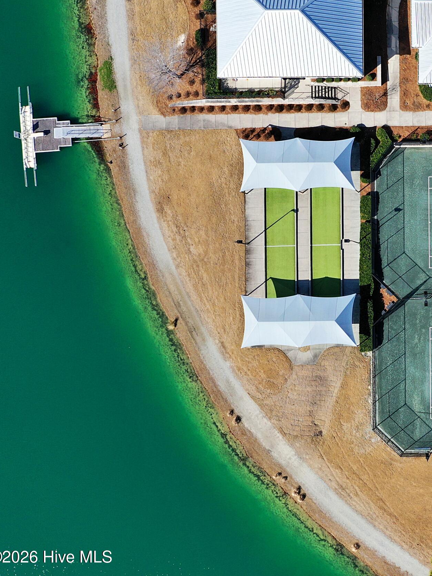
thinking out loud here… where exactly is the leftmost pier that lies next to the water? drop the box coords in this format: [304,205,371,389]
[32,117,74,153]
